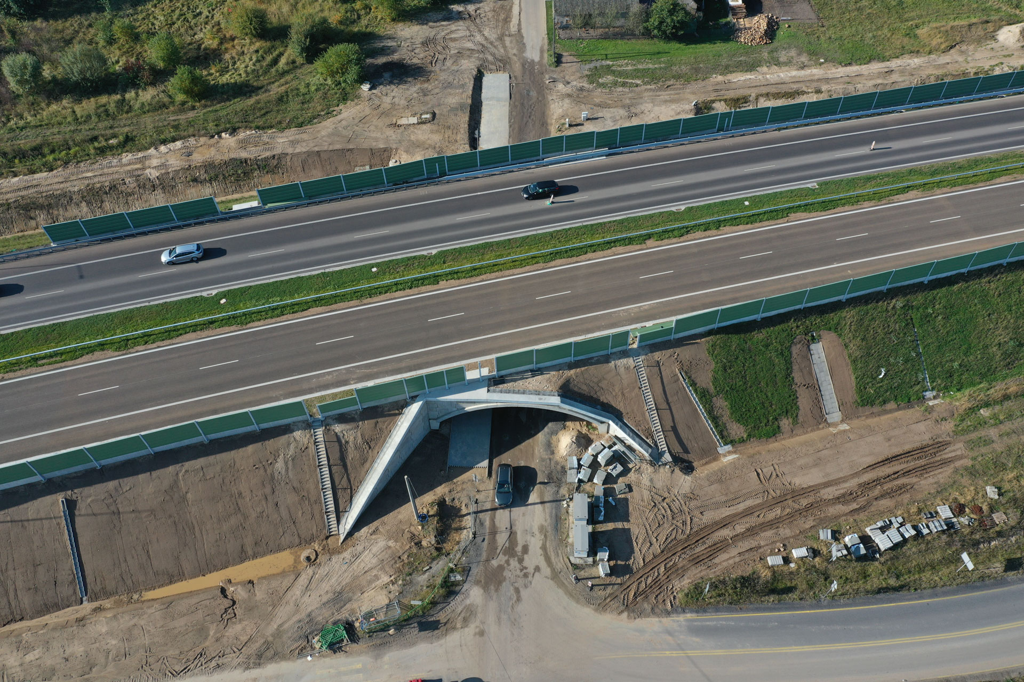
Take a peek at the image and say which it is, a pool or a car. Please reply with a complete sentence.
Looking from above, you can make out a car.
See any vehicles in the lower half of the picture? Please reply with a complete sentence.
Yes, a vehicle can be seen in the lower half of the picture.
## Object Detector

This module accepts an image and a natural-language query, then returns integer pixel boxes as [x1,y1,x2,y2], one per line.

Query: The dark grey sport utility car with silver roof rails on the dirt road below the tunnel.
[492,466,516,511]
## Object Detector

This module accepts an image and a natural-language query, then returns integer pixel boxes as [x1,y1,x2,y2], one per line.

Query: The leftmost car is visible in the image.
[160,241,203,265]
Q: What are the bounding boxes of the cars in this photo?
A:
[492,466,516,511]
[520,177,561,199]
[160,241,203,265]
